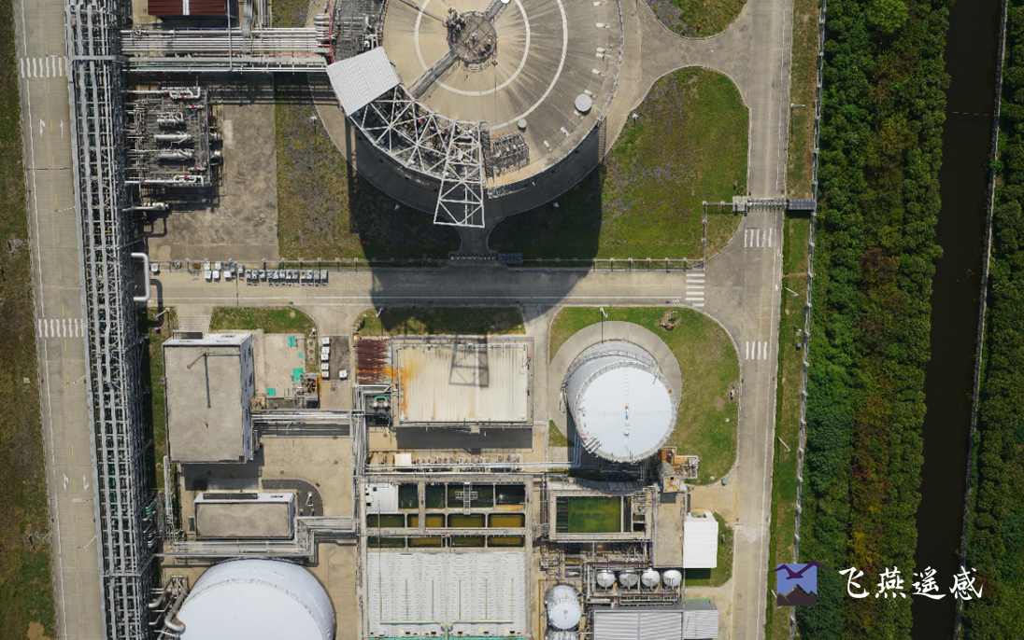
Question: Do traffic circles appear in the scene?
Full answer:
No, no traffic circle is visible in the scene.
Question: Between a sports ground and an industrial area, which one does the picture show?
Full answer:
What you see here is an industrial area.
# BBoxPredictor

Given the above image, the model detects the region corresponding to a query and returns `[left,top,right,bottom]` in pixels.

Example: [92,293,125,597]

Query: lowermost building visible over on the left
[188,493,295,538]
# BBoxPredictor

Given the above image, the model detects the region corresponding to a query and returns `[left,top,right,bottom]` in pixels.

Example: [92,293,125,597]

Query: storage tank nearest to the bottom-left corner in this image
[168,558,335,640]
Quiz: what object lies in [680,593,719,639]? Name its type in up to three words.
shed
